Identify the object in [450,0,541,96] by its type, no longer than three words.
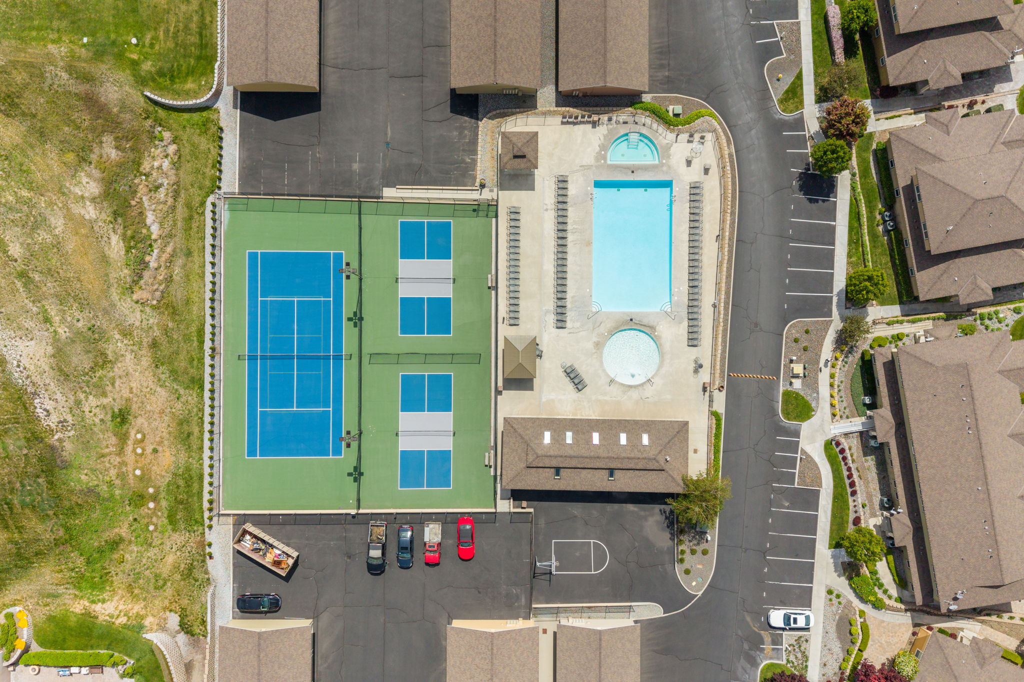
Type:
building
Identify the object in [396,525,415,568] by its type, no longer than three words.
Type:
car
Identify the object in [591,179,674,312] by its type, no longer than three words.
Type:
swimming pool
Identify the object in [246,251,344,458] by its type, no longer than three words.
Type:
tennis court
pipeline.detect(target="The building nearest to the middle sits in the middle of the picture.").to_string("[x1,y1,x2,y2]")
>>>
[503,335,537,379]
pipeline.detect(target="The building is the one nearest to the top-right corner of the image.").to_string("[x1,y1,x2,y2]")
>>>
[871,0,1024,90]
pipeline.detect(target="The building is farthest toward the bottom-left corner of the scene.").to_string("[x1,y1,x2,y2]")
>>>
[219,618,314,682]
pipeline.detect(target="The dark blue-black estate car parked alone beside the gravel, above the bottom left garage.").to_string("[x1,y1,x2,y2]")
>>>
[237,592,282,614]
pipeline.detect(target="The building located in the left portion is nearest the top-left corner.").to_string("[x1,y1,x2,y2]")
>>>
[227,0,321,92]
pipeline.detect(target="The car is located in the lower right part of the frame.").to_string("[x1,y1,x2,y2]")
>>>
[767,608,813,630]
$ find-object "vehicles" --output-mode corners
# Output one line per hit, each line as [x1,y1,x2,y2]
[767,608,813,630]
[396,525,415,568]
[366,518,388,573]
[457,516,476,559]
[237,592,282,614]
[423,519,443,567]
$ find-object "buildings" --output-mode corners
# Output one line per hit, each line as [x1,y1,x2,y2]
[450,0,541,96]
[871,0,1024,90]
[447,617,539,682]
[503,335,537,379]
[558,0,648,97]
[869,324,1024,613]
[501,417,689,492]
[500,131,539,171]
[899,627,1024,682]
[883,107,1024,305]
[219,618,314,682]
[227,0,321,92]
[557,615,640,682]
